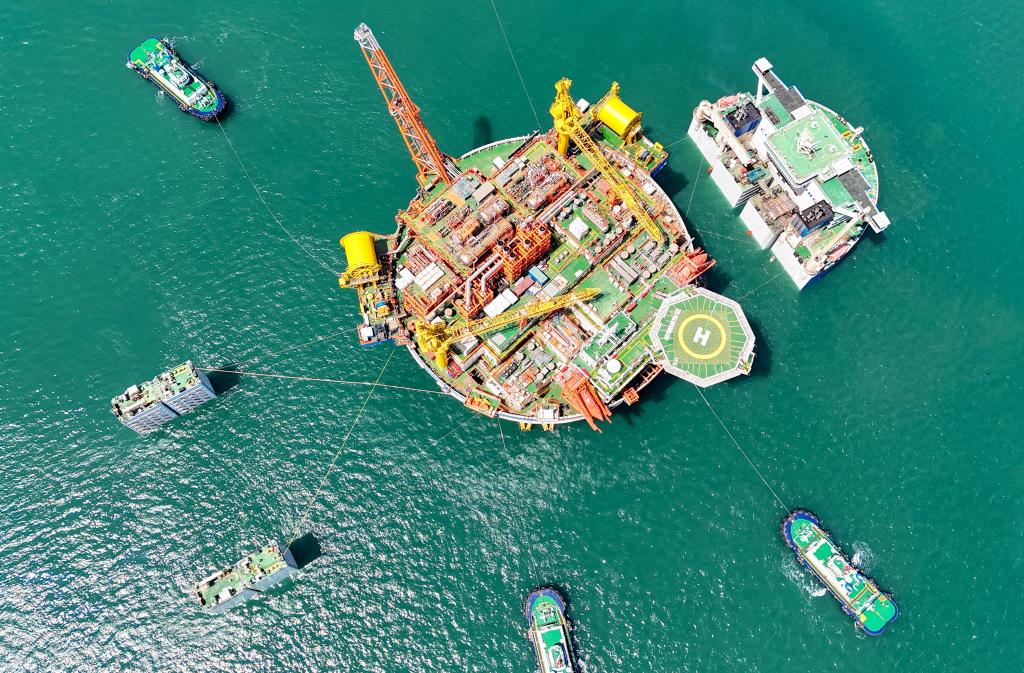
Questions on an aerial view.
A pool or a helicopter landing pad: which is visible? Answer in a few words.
helicopter landing pad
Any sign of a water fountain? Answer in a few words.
No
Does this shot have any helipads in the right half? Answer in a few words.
Yes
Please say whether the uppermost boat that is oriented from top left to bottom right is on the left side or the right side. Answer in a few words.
left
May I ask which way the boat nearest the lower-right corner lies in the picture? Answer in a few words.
on a diagonal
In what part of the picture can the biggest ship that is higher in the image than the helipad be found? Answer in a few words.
top right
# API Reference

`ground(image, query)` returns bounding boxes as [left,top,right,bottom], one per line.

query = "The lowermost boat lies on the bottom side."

[526,585,584,673]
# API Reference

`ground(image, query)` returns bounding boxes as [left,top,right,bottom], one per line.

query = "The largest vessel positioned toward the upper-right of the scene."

[690,53,895,290]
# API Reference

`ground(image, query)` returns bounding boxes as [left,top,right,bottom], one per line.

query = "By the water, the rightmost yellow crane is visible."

[551,72,664,247]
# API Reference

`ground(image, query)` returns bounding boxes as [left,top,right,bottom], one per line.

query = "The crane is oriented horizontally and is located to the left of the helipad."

[415,296,599,370]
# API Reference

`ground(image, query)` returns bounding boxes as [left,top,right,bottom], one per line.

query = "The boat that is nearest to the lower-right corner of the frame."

[781,506,895,636]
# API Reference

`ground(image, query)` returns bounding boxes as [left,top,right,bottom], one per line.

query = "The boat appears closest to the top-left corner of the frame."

[129,43,225,122]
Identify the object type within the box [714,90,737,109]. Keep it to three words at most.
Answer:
boat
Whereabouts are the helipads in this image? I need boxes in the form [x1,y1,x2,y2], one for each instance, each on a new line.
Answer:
[648,287,758,387]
